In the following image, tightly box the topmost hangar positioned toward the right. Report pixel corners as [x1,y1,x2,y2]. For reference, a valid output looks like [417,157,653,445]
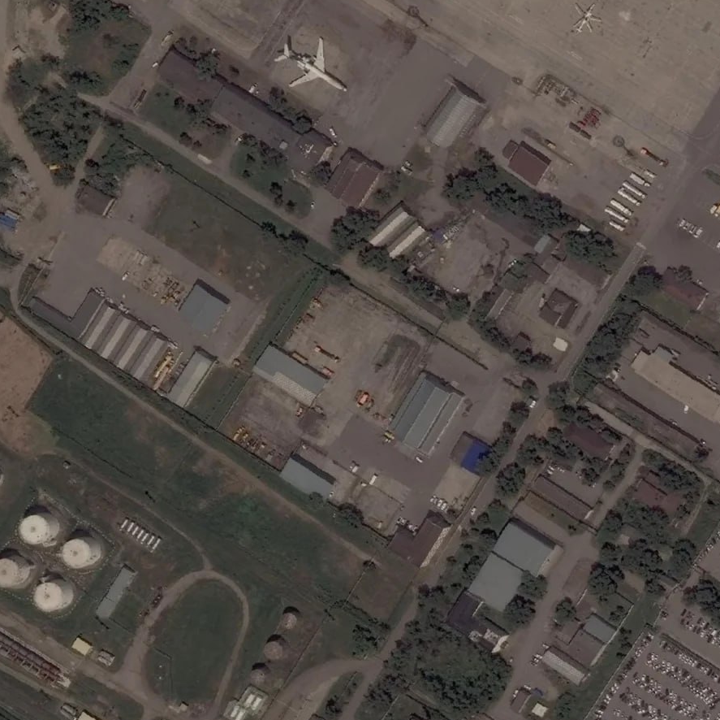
[426,84,488,148]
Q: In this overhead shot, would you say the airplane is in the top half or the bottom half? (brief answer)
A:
top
